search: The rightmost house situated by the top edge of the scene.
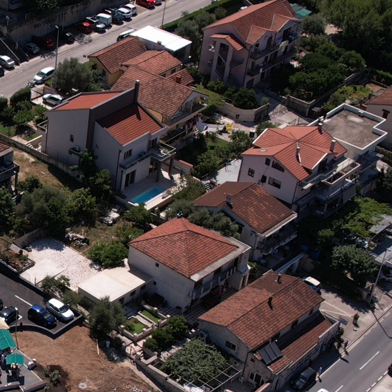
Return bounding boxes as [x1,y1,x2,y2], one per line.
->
[198,0,302,86]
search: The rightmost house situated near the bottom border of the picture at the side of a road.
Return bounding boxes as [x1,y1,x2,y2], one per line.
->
[200,270,341,392]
